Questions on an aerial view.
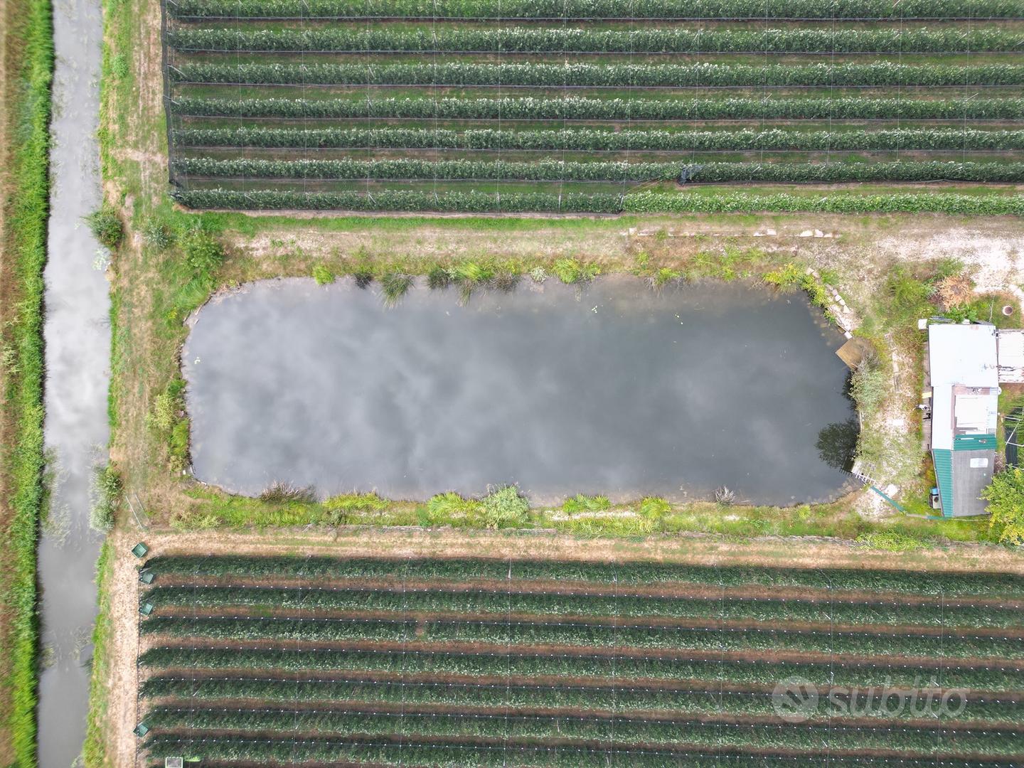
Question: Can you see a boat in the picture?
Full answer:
No, the scene contains no boat.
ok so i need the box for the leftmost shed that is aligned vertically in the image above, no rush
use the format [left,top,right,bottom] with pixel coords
[918,320,1003,518]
